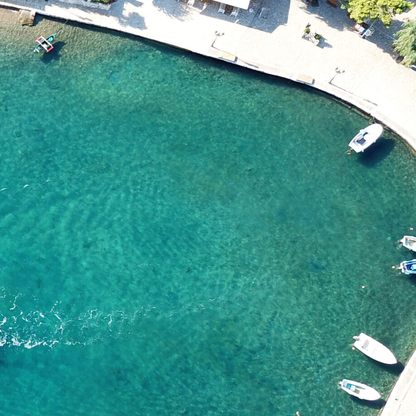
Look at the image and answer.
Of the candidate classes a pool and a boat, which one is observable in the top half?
boat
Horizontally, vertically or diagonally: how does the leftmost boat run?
diagonally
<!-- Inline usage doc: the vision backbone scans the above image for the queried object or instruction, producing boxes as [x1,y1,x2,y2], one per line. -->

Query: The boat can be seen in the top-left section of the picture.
[34,22,65,53]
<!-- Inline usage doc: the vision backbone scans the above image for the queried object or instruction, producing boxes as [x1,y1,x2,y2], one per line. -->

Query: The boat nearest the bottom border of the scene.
[335,378,382,399]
